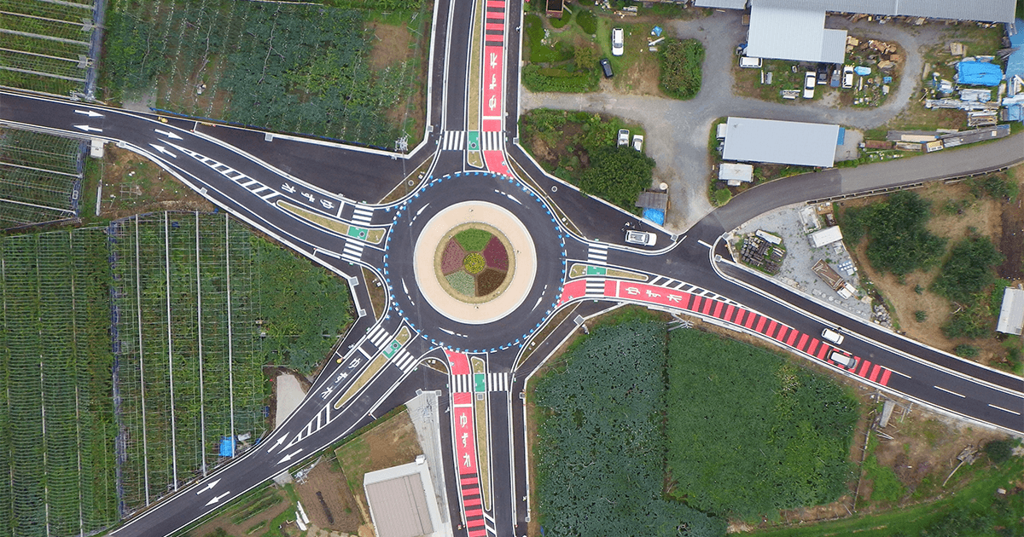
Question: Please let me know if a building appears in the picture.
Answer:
Yes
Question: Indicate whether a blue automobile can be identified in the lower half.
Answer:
No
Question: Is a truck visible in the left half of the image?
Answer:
No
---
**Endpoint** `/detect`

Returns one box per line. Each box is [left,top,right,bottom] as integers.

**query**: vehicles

[826,64,841,91]
[736,58,761,71]
[822,347,856,369]
[814,62,829,87]
[800,69,815,100]
[811,258,853,297]
[611,27,625,58]
[623,231,658,247]
[817,327,843,344]
[838,65,854,91]
[598,57,613,82]
[617,127,630,151]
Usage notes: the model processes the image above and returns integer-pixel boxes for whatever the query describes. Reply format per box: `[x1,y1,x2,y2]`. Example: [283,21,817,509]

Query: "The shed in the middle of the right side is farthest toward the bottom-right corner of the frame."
[995,286,1024,336]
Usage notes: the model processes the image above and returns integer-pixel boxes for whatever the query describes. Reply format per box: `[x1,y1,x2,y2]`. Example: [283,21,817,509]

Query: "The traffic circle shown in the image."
[385,174,564,352]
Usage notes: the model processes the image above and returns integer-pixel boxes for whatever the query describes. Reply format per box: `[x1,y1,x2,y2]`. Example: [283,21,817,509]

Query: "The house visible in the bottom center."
[365,454,446,537]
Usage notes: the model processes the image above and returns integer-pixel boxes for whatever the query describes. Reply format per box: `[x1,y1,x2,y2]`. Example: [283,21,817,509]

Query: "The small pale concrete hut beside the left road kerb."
[90,138,108,158]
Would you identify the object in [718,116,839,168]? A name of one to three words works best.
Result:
building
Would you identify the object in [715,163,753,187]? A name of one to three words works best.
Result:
building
